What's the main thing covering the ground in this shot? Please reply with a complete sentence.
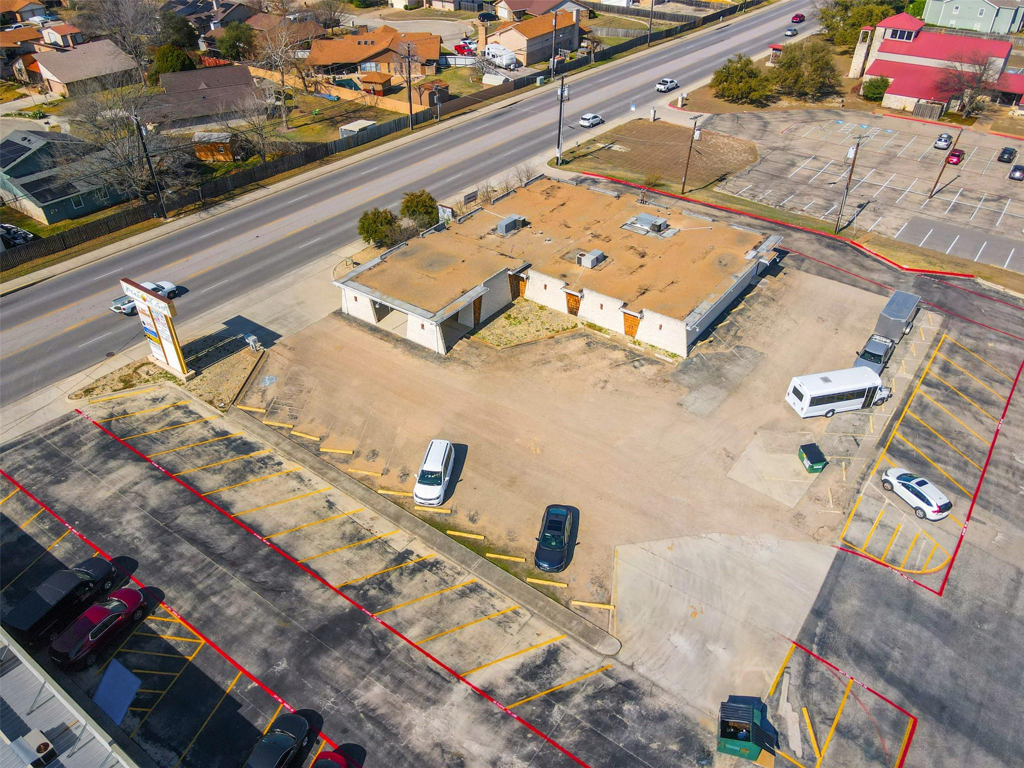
The scene is dominated by paved ground.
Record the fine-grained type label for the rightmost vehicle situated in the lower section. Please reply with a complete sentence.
From above, the rightmost vehicle situated in the lower section can be identified as a car.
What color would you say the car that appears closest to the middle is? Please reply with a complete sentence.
The car that appears closest to the middle looks white in the image.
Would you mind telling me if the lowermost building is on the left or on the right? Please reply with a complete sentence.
The lowermost building is on the left side of the image.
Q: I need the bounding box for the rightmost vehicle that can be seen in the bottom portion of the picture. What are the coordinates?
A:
[883,469,952,523]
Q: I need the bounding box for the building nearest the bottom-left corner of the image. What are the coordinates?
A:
[0,627,135,768]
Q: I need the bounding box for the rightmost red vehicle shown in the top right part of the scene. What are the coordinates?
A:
[948,147,967,162]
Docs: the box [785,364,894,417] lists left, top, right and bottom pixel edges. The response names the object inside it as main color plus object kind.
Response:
white vehicle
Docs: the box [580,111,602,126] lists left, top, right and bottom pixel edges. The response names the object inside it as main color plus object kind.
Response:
white car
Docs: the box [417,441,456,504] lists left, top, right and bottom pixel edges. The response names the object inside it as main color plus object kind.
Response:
white car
